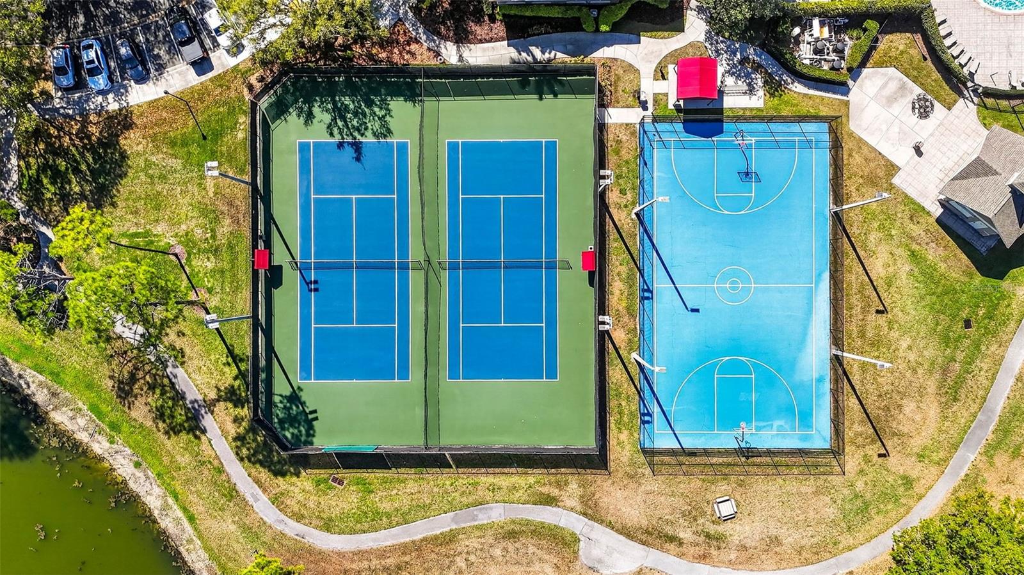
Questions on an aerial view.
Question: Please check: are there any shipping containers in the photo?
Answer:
No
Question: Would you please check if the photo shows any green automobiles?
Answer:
No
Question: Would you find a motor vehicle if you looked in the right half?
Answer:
No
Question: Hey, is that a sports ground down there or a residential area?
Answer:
sports ground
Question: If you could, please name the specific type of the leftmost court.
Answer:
tennis court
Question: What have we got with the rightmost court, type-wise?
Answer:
basketball court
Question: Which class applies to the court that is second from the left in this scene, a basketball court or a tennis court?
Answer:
tennis court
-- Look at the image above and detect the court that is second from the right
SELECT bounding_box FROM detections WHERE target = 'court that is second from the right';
[426,75,594,446]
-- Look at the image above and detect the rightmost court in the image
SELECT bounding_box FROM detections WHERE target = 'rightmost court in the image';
[641,122,830,449]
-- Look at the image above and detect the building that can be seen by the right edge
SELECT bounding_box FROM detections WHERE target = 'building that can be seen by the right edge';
[926,123,1024,248]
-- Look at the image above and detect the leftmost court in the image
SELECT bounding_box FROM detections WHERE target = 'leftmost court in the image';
[260,75,426,446]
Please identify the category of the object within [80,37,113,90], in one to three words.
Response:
car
